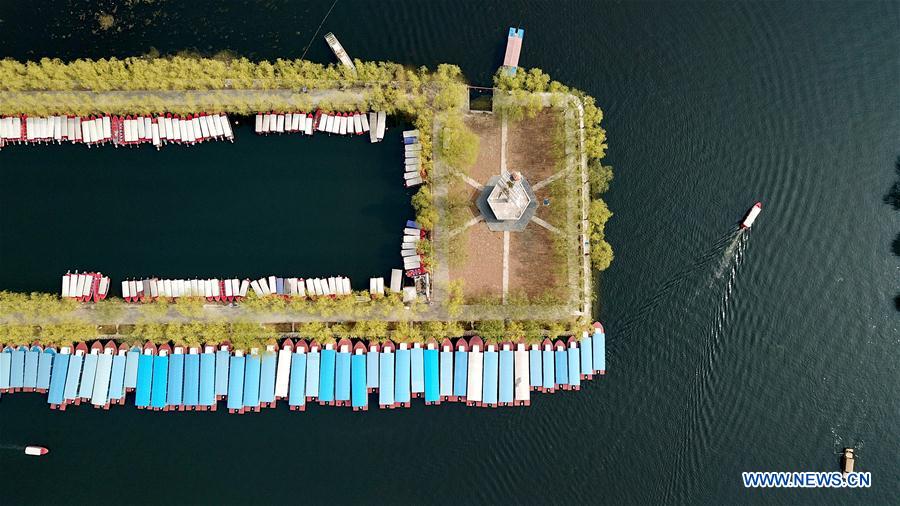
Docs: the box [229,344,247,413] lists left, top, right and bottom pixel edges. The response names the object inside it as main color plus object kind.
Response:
blue boat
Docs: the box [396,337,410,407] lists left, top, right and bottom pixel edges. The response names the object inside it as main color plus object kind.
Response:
blue boat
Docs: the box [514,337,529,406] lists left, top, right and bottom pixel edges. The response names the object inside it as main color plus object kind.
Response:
white boat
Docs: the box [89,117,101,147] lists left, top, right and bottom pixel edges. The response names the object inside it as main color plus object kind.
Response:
white boat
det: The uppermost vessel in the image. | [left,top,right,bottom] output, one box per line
[504,28,523,76]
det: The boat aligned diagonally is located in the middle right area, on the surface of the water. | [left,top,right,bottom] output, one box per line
[740,204,758,228]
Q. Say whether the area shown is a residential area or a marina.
marina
